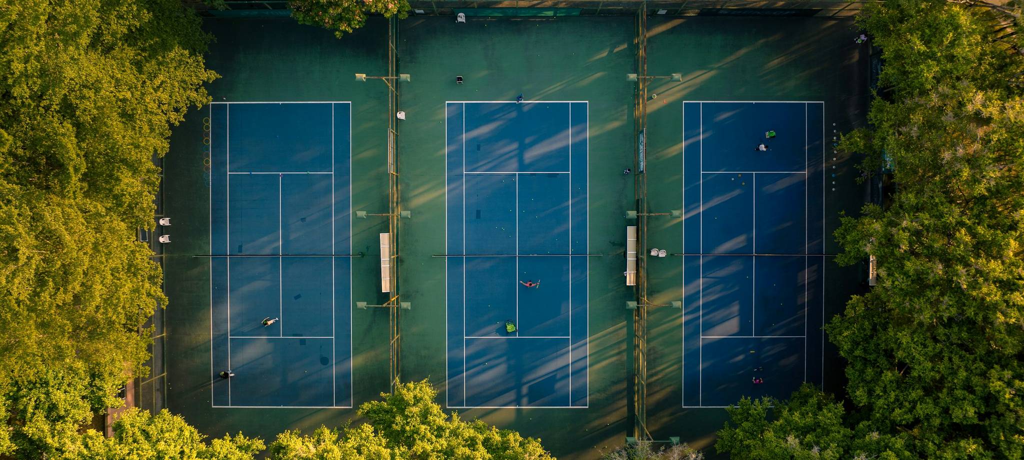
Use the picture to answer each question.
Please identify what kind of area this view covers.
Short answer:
sports ground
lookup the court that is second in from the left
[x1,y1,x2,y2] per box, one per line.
[399,18,636,460]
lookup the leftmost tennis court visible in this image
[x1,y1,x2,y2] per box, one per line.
[164,18,398,460]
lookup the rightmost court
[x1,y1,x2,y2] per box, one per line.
[637,18,869,460]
